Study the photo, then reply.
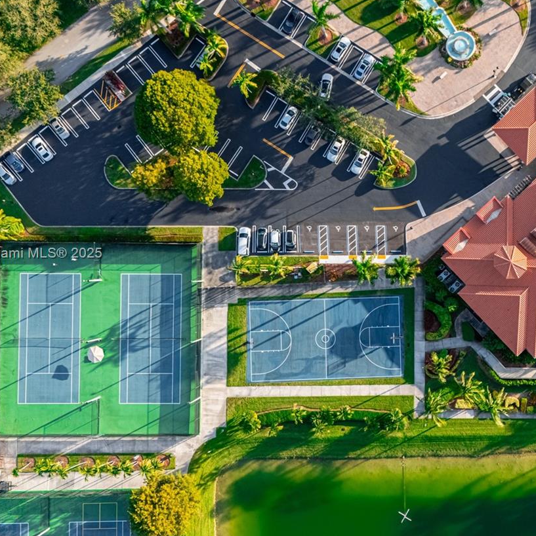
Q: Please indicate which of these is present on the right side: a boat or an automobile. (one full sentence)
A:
You can see an automobile on the right side.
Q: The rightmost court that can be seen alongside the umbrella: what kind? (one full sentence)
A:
From above, the rightmost court that can be seen alongside the umbrella can be identified as a tennis court.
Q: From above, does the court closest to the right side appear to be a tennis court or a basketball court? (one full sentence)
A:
The court closest to the right side in the image is a basketball court.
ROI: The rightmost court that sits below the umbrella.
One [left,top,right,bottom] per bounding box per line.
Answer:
[50,495,147,536]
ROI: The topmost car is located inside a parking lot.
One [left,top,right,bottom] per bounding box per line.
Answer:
[281,7,301,34]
